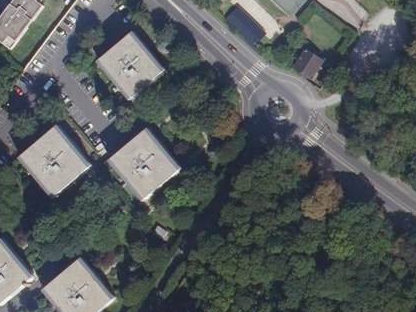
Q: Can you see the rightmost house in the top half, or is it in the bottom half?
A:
top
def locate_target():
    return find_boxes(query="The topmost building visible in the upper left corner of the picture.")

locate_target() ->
[0,0,46,50]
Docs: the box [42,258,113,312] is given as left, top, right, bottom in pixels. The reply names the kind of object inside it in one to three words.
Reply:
building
